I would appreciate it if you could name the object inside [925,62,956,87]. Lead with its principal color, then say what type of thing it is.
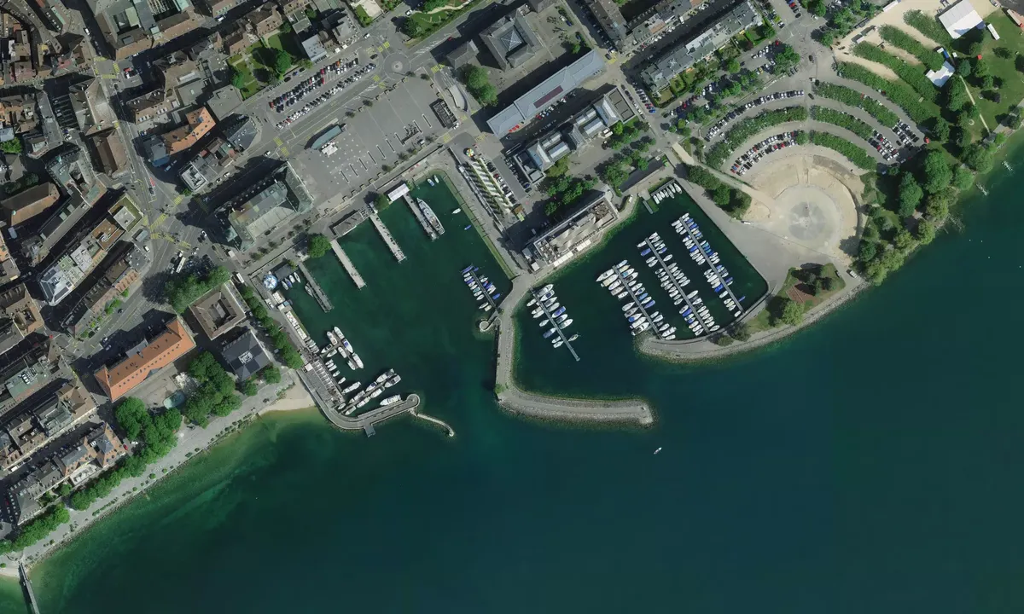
white tent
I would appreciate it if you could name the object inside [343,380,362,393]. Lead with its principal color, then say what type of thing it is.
white boat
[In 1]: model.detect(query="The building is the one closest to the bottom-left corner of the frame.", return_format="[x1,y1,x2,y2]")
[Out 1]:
[8,478,46,518]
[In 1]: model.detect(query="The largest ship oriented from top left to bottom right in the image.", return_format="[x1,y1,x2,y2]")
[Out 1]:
[416,197,445,236]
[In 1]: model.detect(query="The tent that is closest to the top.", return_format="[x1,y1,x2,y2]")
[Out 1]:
[938,0,983,39]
